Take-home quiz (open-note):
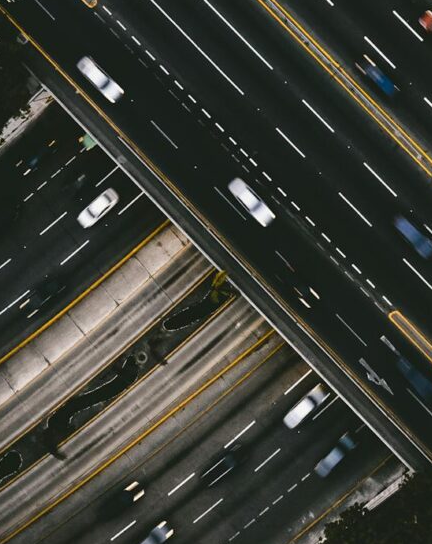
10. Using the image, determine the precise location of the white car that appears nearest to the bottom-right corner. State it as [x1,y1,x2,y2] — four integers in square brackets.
[284,384,329,425]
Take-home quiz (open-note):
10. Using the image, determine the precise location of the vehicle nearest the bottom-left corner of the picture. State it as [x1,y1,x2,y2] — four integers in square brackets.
[95,480,143,523]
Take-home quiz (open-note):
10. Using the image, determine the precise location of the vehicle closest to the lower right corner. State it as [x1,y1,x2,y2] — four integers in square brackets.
[312,434,359,477]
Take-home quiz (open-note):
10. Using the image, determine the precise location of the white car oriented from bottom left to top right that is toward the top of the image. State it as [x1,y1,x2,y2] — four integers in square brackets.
[75,186,122,227]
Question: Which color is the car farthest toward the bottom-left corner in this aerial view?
black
